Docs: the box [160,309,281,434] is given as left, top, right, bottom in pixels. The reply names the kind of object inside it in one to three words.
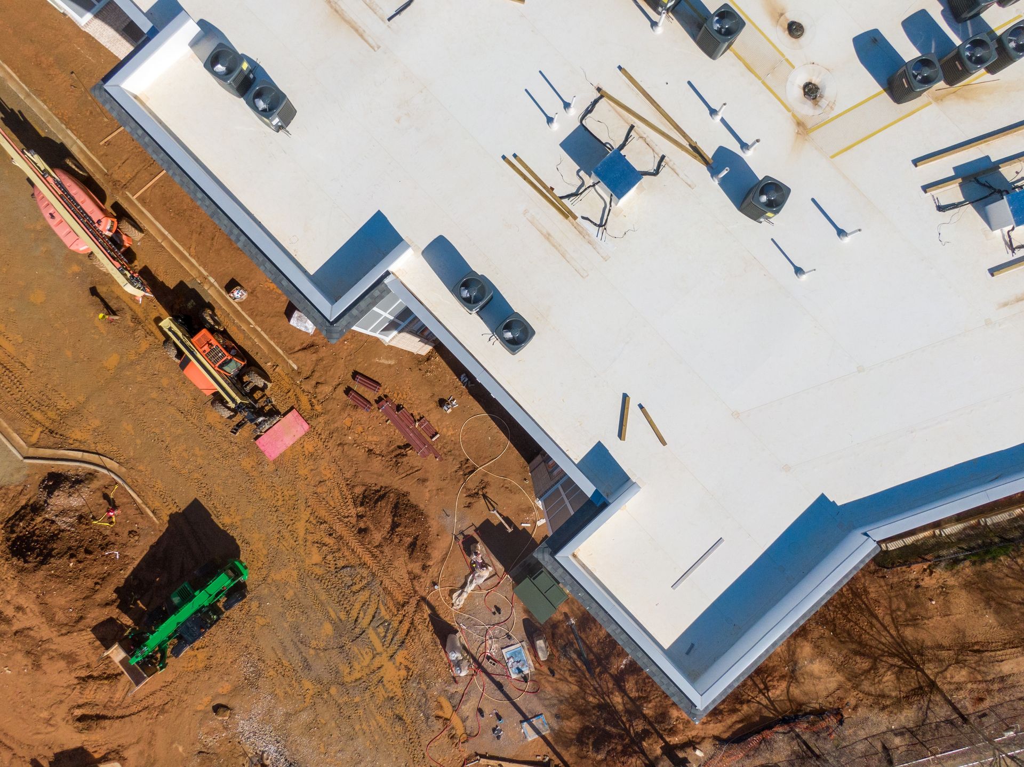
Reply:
work vehicle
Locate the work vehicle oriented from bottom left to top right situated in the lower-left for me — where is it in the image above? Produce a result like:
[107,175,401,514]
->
[97,551,254,697]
